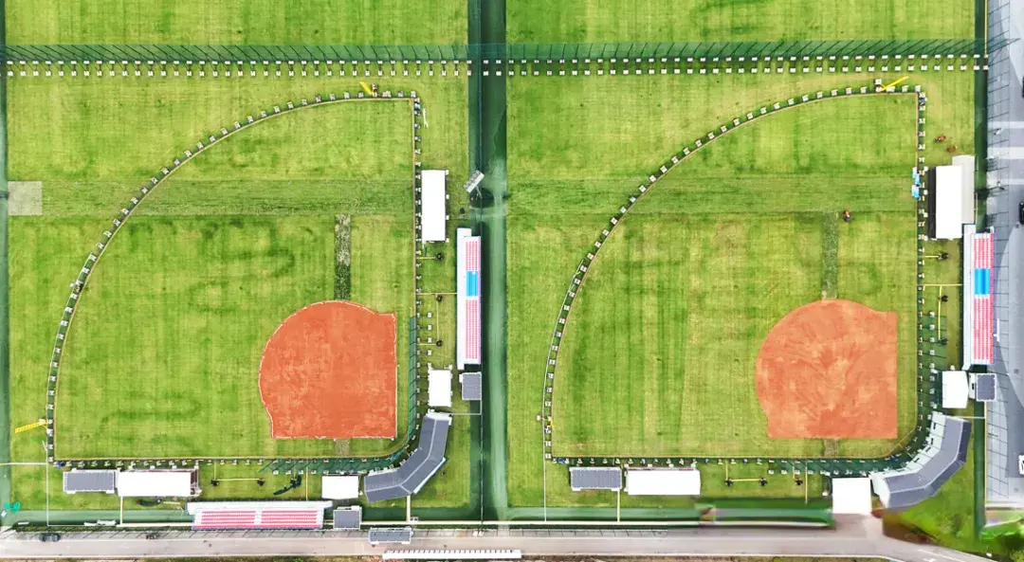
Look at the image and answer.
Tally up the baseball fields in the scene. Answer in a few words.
two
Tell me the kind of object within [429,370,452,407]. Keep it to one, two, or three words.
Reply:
tent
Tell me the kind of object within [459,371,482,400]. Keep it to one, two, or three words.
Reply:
building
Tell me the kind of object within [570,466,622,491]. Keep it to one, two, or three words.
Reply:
building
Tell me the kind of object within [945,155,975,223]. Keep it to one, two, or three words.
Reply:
tent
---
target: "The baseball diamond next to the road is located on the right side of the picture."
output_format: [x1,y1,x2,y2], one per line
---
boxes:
[552,93,917,457]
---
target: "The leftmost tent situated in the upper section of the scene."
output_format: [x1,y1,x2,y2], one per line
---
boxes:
[422,170,447,243]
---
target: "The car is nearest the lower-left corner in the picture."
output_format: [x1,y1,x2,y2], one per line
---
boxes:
[36,533,59,545]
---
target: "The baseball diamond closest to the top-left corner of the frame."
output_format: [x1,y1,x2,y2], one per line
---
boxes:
[55,98,414,458]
